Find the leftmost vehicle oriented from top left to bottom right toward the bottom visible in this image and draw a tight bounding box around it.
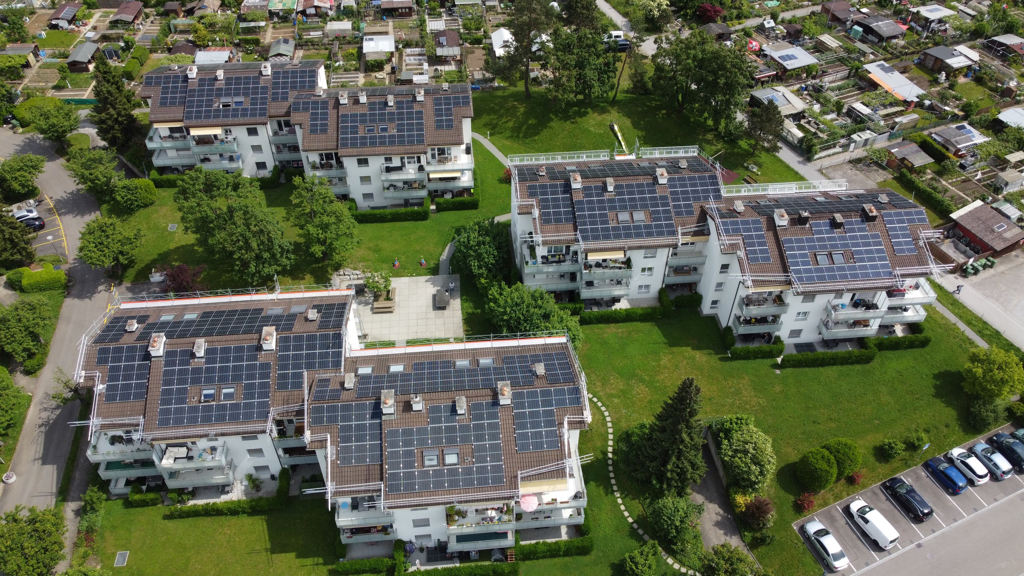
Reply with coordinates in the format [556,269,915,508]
[804,521,851,573]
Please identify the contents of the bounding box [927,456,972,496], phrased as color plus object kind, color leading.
blue car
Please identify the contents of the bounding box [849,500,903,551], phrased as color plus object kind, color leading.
white van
